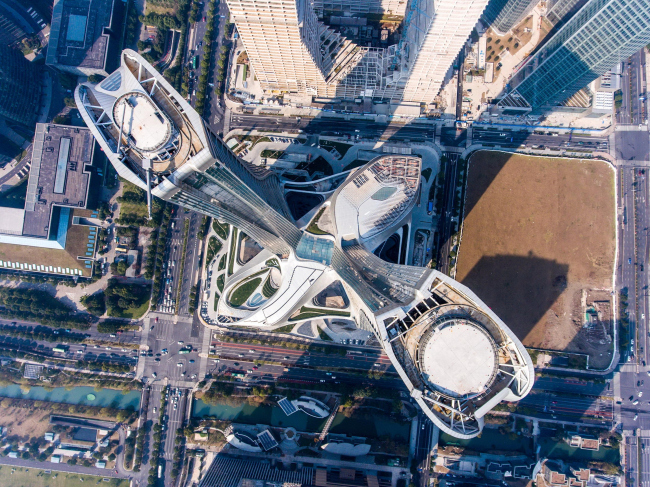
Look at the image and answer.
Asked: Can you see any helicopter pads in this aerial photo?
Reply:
Yes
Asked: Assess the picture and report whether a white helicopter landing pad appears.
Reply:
Yes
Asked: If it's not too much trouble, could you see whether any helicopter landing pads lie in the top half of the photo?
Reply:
Yes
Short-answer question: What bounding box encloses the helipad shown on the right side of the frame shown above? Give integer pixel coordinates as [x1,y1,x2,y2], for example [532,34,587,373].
[415,317,498,399]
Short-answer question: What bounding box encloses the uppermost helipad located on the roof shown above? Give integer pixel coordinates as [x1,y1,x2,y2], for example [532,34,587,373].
[109,88,182,157]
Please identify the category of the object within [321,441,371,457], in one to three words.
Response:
building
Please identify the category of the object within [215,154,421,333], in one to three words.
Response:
building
